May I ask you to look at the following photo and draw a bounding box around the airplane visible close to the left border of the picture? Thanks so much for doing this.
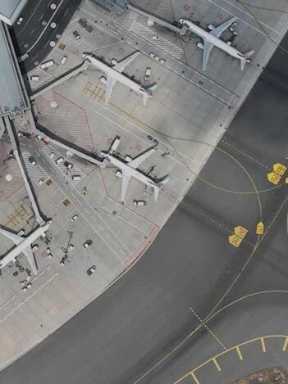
[0,220,51,280]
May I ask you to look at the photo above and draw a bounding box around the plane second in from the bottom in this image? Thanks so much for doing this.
[104,146,170,204]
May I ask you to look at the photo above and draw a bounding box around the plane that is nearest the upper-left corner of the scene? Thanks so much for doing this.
[84,50,159,105]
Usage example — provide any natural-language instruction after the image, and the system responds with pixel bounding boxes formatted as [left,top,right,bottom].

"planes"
[84,50,159,105]
[181,14,258,70]
[104,146,170,204]
[0,220,51,280]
